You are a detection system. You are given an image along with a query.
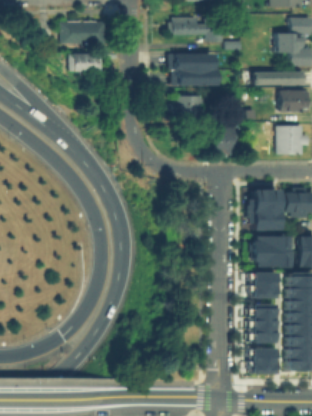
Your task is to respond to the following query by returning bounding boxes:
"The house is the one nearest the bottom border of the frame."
[244,349,280,374]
